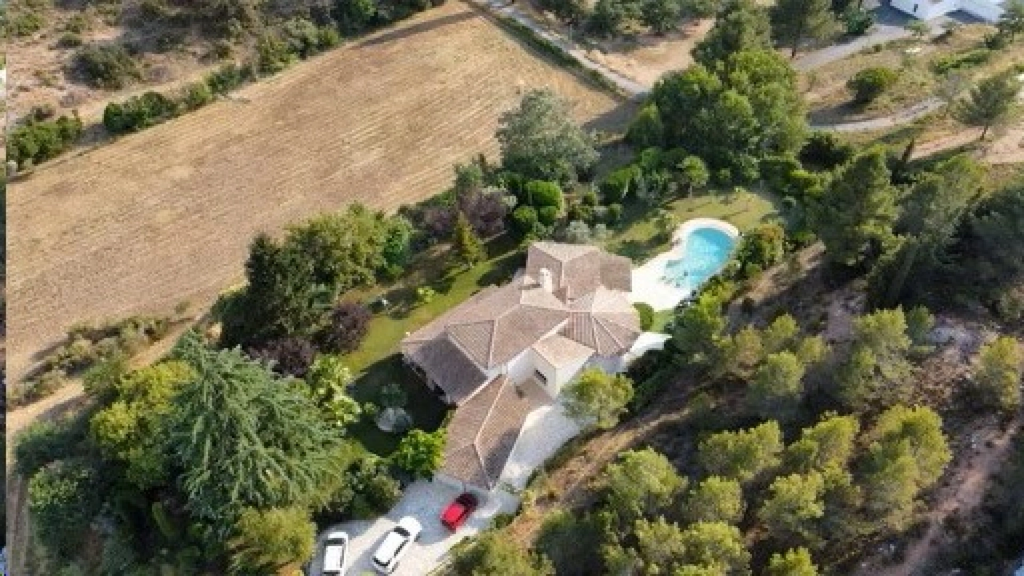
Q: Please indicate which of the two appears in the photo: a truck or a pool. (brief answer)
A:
pool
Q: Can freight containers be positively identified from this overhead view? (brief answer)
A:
No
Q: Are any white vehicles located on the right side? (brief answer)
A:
No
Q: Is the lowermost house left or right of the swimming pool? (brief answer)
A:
to the left of it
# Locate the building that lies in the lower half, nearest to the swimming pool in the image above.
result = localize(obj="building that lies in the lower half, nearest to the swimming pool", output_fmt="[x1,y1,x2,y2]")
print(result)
[400,242,643,498]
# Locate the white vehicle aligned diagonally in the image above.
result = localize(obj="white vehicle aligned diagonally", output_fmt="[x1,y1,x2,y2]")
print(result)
[366,511,428,576]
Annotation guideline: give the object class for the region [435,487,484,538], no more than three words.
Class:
car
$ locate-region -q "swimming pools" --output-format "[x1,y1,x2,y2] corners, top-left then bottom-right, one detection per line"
[659,223,738,292]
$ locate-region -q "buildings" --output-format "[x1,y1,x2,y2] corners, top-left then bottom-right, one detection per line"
[892,0,1024,21]
[400,242,643,498]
